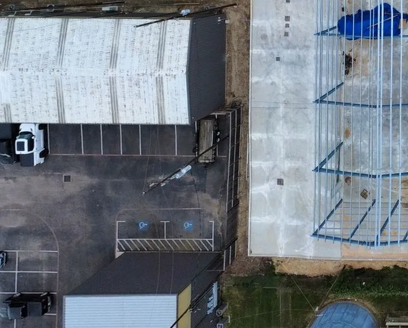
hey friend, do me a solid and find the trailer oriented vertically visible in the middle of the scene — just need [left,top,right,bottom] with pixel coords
[193,118,219,172]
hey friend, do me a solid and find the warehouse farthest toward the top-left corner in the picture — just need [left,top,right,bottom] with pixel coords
[0,9,225,126]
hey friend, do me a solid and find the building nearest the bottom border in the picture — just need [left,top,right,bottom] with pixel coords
[59,249,222,328]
